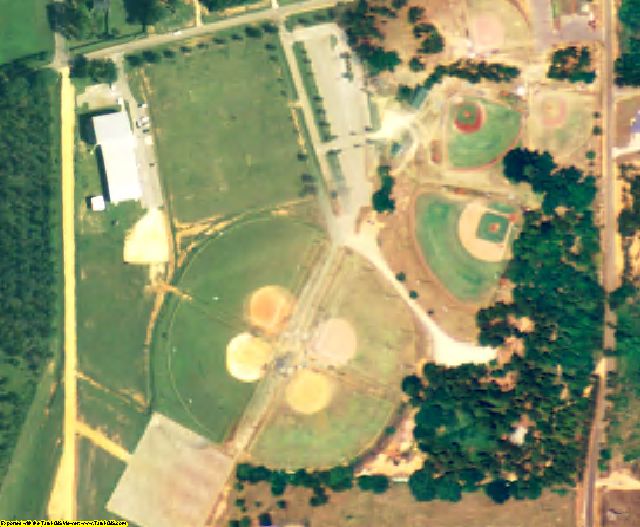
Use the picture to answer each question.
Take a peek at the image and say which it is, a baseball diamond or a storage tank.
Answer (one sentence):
This aerial view contains a baseball diamond.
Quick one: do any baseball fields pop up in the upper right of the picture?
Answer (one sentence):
Yes, a baseball field is visible in the upper right of the picture.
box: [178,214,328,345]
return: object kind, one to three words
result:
baseball field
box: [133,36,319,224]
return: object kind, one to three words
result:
sports field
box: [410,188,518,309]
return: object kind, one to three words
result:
baseball field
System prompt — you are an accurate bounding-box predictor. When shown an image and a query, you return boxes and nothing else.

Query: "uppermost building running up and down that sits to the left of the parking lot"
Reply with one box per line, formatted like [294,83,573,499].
[92,111,142,203]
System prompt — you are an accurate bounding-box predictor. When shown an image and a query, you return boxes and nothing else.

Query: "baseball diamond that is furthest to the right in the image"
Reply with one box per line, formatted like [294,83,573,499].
[528,86,596,164]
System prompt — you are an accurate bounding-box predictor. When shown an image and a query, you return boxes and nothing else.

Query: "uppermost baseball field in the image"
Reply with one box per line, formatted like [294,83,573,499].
[464,0,534,52]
